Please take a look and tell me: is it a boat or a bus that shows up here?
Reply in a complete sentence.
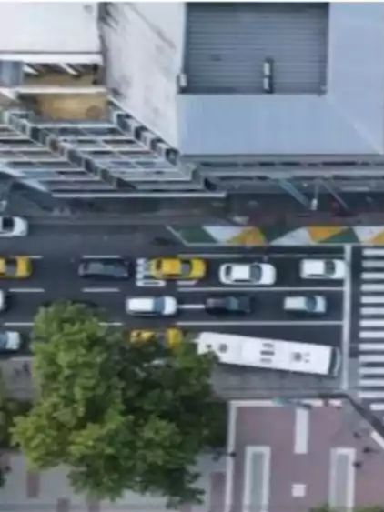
Visible in the photo is a bus.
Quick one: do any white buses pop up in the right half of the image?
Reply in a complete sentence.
Yes, the scene does show a white bus in the right half of the image.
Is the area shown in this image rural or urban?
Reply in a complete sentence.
The area shown here is urban.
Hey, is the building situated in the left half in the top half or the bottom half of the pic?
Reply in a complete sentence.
It is in the top half that the building situated in the left half appears.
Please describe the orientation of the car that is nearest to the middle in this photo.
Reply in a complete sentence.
The car that is nearest to the middle is oriented horizontally.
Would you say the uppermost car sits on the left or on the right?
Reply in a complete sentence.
It is on the left.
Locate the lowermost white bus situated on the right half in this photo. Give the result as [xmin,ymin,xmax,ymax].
[197,333,342,380]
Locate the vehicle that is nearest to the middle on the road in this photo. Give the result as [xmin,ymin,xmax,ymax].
[151,255,208,281]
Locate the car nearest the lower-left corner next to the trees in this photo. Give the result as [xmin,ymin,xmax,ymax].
[0,331,23,353]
